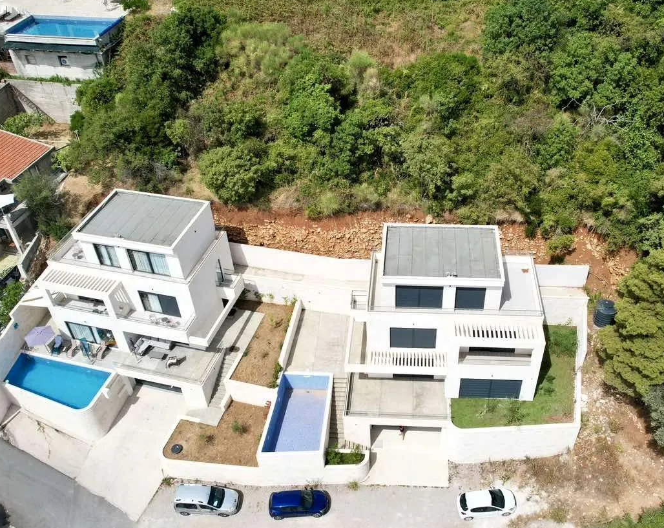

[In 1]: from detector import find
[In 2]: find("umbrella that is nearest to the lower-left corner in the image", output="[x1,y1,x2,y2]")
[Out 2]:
[24,325,58,354]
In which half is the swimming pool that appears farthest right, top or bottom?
bottom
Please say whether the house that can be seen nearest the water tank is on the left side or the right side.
right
